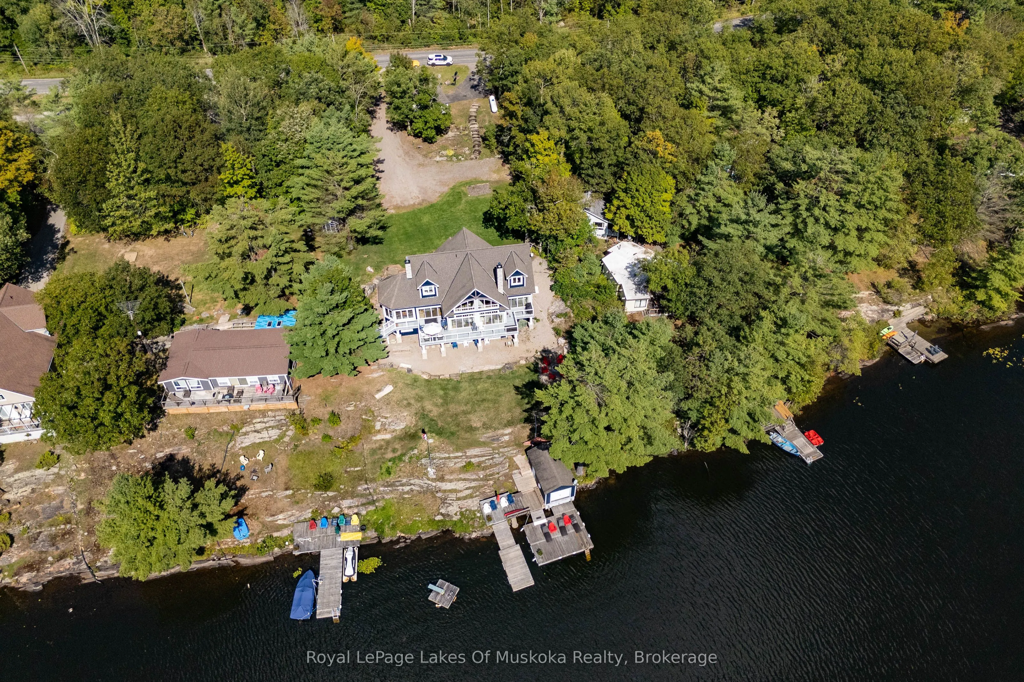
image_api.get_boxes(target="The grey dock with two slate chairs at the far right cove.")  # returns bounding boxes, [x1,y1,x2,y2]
[887,308,948,366]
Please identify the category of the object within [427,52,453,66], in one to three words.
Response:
car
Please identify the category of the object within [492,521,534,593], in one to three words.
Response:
pier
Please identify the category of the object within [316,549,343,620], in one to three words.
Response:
pier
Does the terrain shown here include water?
Yes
